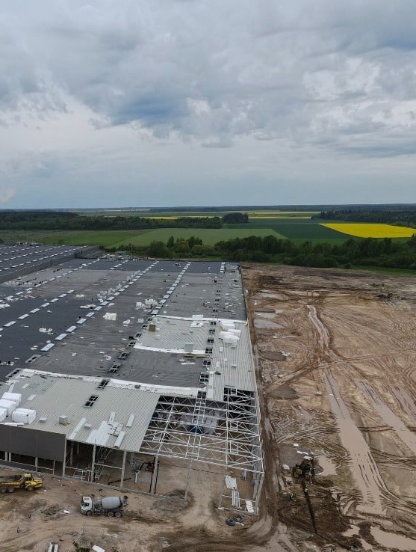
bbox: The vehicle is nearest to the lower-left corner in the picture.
[0,471,44,494]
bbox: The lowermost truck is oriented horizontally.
[79,496,130,518]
